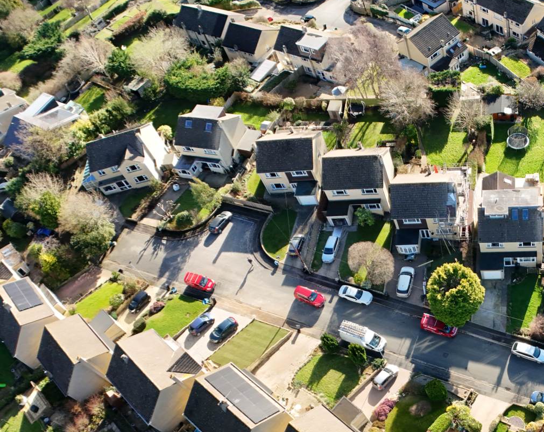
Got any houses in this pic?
Yes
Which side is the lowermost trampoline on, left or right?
right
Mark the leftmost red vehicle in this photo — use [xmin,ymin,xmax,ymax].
[180,268,218,293]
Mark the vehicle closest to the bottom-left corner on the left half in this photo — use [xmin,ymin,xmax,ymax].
[128,292,151,314]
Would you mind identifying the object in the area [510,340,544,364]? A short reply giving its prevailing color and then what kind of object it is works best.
white car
